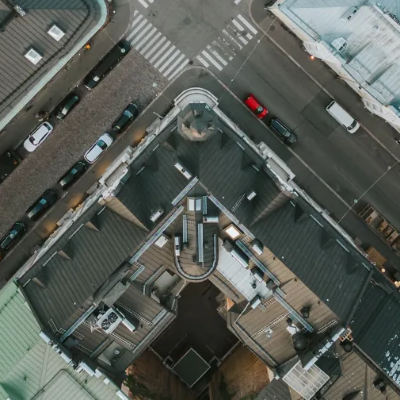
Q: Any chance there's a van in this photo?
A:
Yes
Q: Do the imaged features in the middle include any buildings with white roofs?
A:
No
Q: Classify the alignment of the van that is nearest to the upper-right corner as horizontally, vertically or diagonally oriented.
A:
diagonally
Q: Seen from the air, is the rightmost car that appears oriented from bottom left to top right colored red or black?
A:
black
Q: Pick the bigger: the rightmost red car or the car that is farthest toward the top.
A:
the car that is farthest toward the top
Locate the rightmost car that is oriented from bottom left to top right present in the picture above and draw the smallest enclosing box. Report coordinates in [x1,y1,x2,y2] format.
[108,100,144,136]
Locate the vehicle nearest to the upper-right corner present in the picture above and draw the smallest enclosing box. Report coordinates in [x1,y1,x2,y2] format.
[323,99,362,137]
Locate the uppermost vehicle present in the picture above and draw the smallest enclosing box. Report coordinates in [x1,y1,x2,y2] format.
[80,37,135,92]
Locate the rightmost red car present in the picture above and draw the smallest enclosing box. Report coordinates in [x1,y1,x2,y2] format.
[241,90,271,121]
